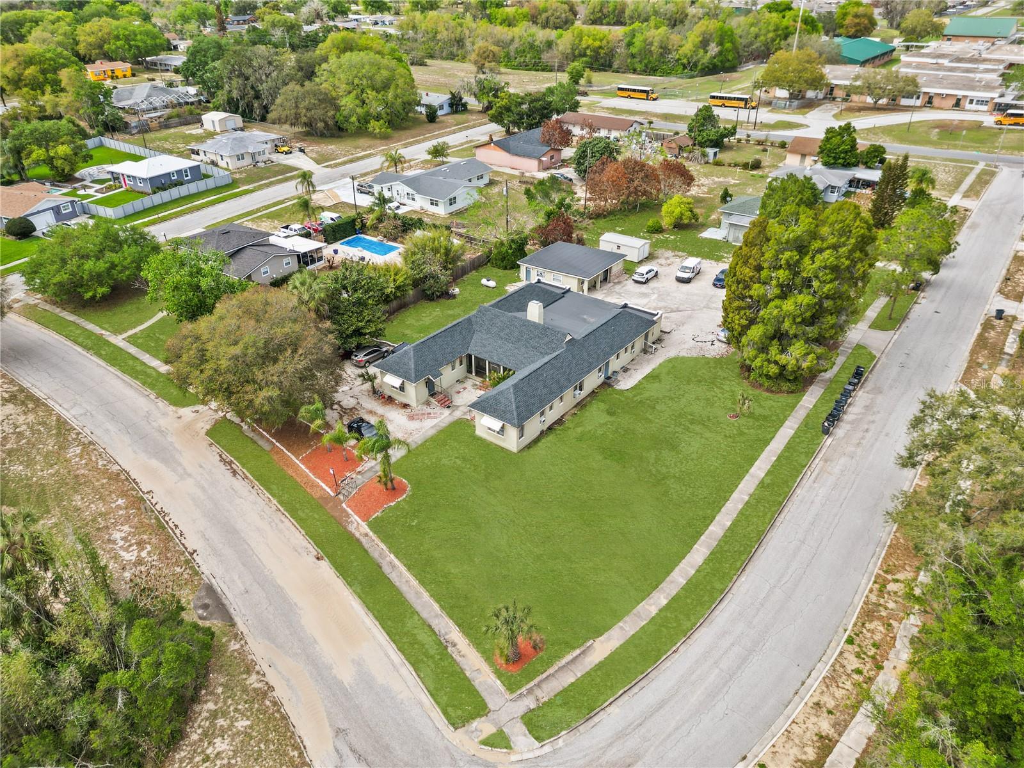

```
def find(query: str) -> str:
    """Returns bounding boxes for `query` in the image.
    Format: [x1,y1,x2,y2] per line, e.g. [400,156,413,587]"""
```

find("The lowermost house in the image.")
[371,276,664,451]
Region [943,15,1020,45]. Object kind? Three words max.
building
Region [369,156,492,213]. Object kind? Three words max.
house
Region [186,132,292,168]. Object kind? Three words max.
house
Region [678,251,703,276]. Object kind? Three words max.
vehicle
